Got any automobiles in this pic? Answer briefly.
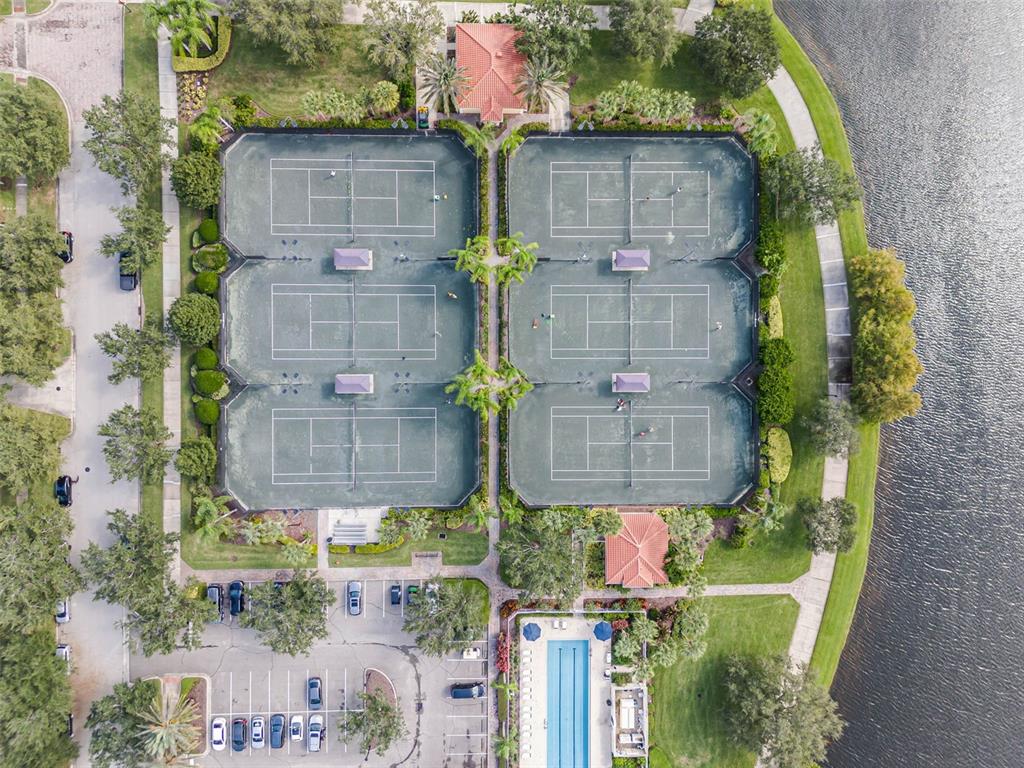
Yes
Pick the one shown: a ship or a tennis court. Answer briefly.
tennis court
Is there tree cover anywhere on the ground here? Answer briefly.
Yes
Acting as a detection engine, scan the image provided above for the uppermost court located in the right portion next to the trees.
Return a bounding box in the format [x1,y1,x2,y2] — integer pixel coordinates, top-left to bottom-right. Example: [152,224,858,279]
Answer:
[509,137,752,260]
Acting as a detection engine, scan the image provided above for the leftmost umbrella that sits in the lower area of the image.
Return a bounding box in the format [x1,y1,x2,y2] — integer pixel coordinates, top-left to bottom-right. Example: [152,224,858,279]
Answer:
[523,623,541,640]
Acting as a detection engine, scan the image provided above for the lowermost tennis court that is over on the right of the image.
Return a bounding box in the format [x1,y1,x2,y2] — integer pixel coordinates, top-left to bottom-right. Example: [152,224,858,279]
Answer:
[509,382,753,505]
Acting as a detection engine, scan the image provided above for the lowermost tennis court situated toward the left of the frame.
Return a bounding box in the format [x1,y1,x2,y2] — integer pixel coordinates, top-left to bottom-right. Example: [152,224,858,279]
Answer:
[227,384,477,509]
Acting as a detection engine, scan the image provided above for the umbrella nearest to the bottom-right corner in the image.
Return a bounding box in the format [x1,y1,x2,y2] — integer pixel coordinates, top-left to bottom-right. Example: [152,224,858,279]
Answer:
[594,622,611,639]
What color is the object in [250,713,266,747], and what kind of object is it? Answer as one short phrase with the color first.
white car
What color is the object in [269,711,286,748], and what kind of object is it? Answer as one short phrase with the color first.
blue car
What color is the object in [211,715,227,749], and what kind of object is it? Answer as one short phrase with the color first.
white car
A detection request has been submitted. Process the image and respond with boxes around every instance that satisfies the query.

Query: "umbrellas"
[594,622,611,639]
[523,623,541,640]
